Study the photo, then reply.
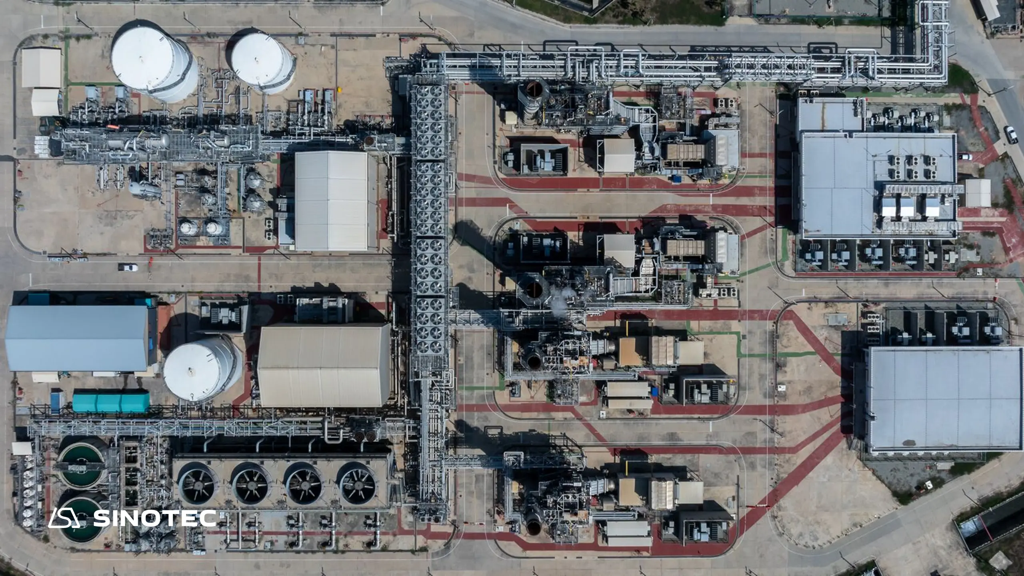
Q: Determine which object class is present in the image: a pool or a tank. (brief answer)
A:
tank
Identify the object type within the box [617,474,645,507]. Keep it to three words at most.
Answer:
house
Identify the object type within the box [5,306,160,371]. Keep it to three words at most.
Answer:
building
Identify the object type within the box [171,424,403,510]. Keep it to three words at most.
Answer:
cooling tower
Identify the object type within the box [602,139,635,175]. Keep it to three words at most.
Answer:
shed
